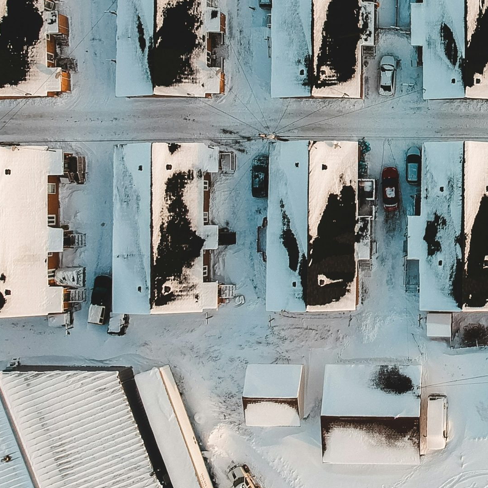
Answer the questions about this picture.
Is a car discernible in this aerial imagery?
Yes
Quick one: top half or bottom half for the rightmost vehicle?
bottom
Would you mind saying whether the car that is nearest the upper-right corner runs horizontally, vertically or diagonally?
vertically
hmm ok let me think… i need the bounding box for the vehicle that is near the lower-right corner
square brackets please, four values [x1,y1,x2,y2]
[424,394,448,449]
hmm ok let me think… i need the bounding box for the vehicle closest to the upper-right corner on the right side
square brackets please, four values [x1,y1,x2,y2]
[377,55,397,97]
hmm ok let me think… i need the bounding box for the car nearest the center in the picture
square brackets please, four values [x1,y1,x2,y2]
[248,155,267,198]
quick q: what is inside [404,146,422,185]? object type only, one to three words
car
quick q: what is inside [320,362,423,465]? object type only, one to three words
building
